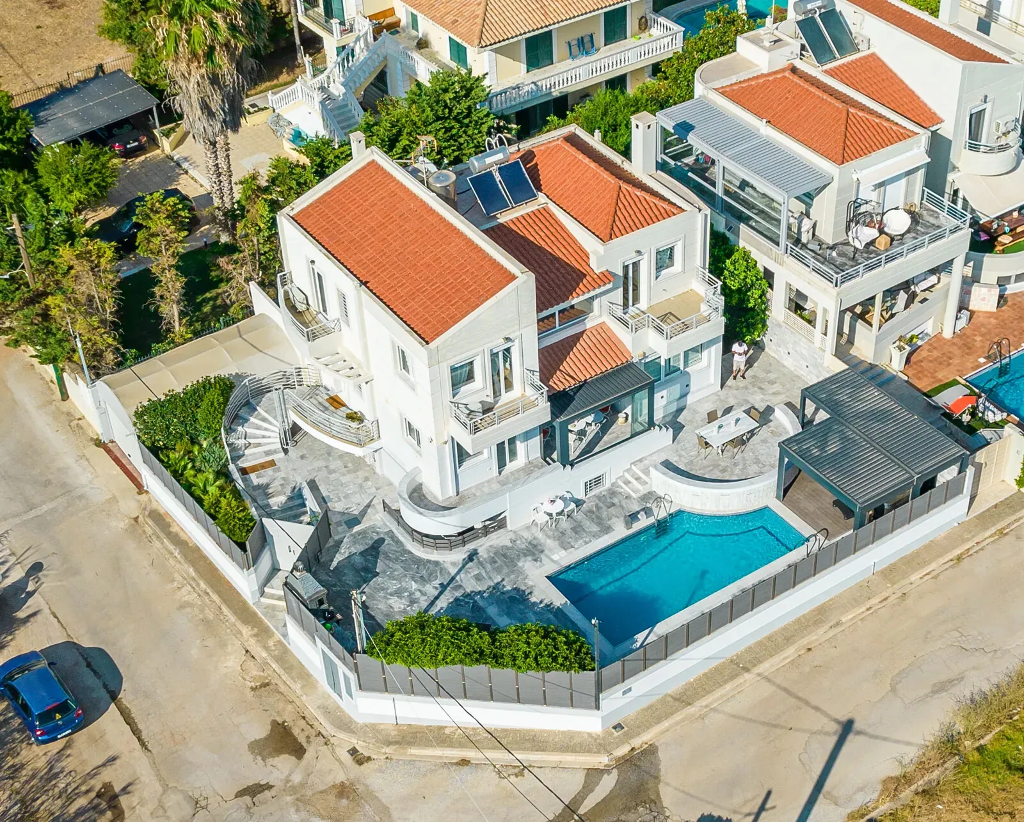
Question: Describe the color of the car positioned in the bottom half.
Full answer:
From above, the car positioned in the bottom half appears blue.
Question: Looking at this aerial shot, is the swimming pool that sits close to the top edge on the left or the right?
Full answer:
You can find the swimming pool that sits close to the top edge on the right side of the picture.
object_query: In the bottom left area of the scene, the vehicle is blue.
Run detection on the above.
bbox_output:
[0,646,84,747]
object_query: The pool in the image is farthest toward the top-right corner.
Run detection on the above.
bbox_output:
[660,0,719,42]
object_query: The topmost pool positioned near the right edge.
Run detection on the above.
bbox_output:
[961,343,1024,418]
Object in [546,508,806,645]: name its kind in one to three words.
swimming pool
